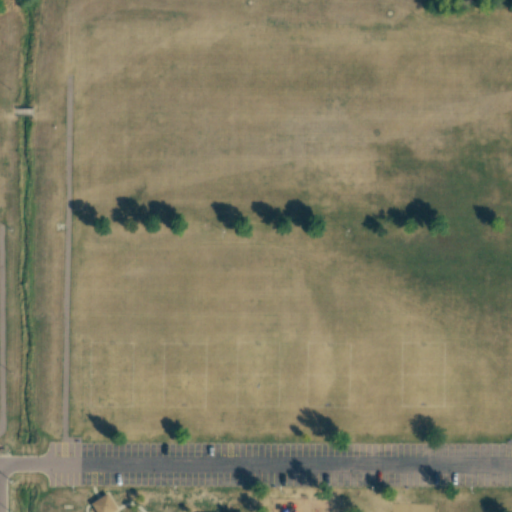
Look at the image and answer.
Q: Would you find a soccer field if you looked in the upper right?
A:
No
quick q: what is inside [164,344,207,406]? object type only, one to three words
soccer field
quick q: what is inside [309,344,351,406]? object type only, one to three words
soccer field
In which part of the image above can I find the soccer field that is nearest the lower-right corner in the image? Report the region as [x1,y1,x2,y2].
[402,344,446,406]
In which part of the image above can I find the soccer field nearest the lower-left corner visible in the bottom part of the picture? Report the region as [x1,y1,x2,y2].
[91,344,134,406]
